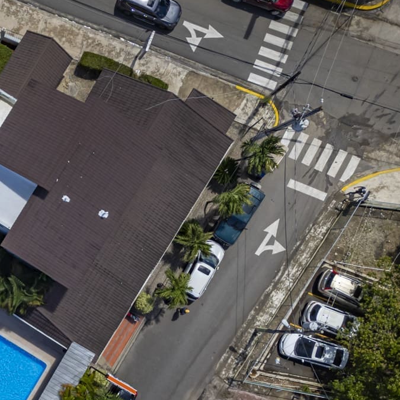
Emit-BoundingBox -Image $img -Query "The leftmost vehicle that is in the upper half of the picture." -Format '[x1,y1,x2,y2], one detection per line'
[111,0,184,33]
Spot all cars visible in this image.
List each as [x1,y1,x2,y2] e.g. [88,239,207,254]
[180,236,231,307]
[302,268,373,310]
[111,0,184,33]
[274,333,351,371]
[226,0,291,17]
[212,180,268,247]
[291,302,359,344]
